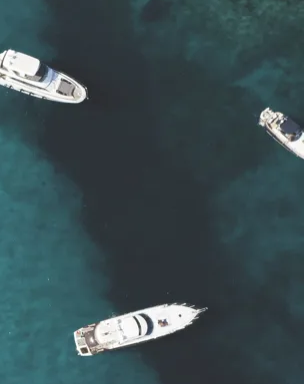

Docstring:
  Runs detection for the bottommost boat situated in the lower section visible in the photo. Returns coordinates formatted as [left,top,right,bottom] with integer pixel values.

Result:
[68,304,207,359]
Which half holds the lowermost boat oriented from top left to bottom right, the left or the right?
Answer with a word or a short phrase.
right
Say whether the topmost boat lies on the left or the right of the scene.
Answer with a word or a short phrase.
left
